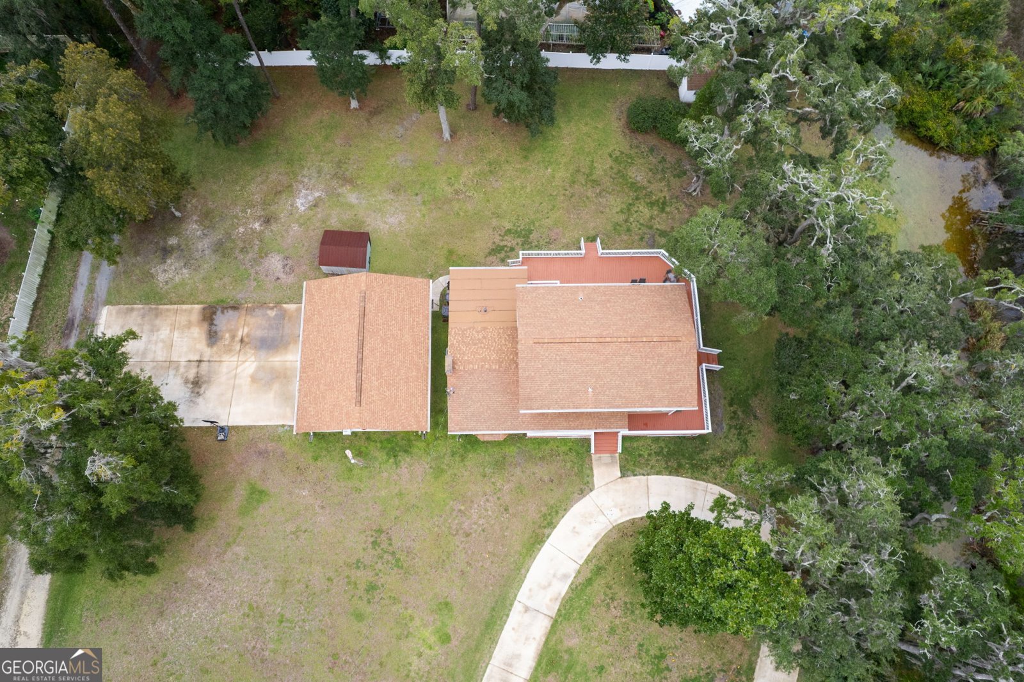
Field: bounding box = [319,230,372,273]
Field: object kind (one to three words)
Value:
shed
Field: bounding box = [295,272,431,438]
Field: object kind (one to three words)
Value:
building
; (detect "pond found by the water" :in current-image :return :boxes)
[864,119,1024,659]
